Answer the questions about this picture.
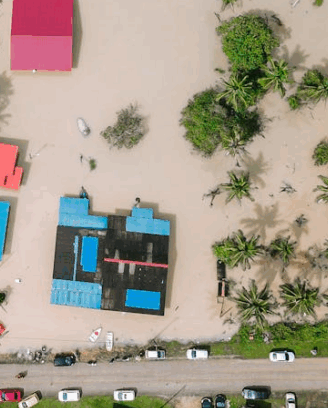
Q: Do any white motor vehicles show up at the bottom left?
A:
Yes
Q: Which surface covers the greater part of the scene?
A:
water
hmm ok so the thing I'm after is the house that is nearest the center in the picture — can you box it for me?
[51,197,170,315]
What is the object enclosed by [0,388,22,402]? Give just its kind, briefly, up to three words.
car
